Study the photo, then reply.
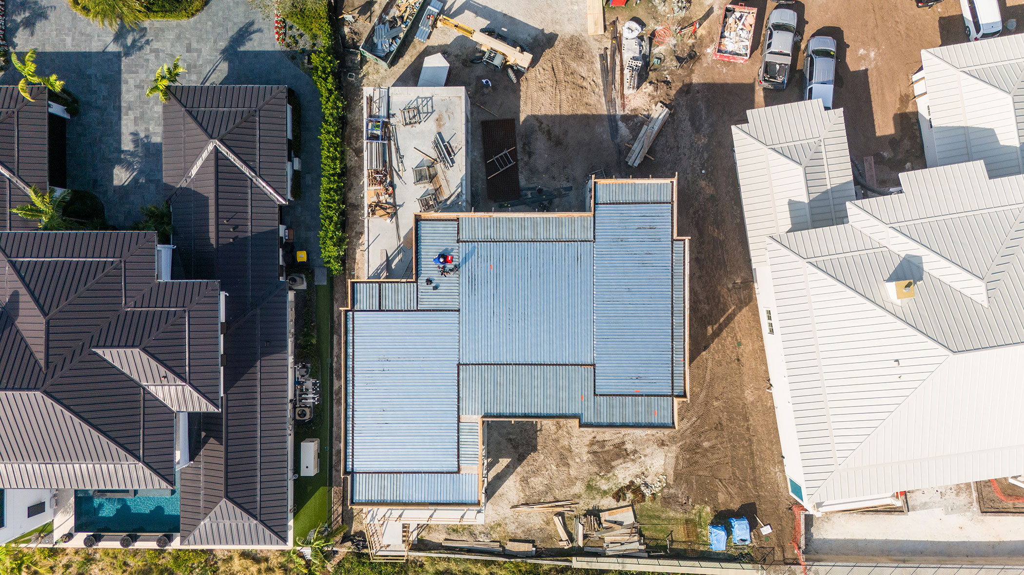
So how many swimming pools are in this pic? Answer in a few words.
1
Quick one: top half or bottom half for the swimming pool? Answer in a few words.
bottom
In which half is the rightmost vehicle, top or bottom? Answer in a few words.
top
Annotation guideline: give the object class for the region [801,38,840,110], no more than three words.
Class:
truck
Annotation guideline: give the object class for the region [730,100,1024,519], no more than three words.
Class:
house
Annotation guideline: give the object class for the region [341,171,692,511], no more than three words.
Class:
house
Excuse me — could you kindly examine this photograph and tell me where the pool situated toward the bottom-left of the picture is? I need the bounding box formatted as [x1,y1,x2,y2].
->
[73,470,186,533]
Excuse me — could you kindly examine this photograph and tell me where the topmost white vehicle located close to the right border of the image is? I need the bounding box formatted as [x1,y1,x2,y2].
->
[956,0,1005,42]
